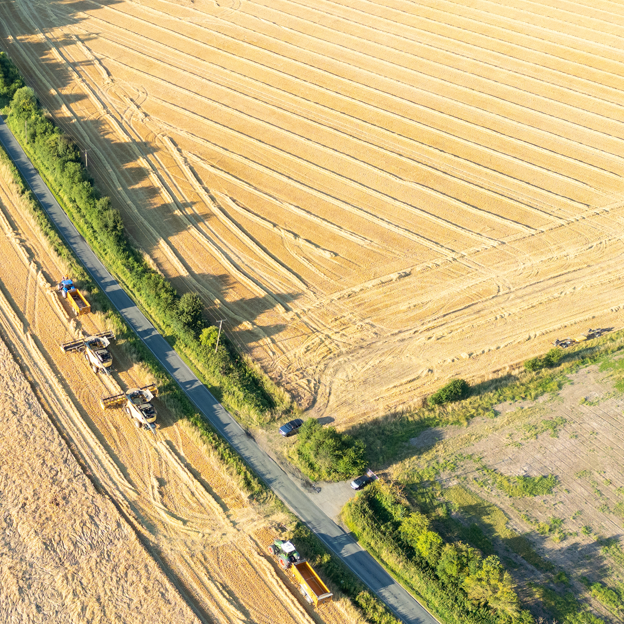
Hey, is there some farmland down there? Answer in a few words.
Yes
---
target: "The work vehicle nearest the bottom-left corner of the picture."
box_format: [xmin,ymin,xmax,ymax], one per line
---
[99,381,158,434]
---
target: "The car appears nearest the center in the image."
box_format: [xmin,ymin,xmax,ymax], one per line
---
[279,418,304,438]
